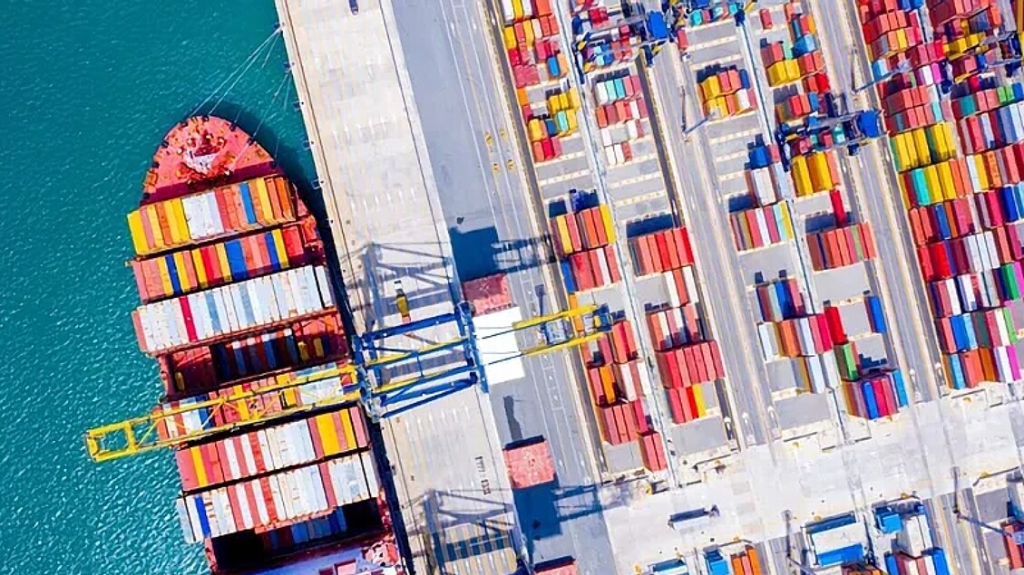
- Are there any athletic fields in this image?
No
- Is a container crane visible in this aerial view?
Yes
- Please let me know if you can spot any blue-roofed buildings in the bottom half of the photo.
Yes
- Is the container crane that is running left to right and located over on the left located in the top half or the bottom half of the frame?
bottom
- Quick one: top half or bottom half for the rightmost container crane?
top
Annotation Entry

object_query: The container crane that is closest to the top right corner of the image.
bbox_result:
[938,32,1024,99]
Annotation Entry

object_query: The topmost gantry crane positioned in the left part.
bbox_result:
[81,300,615,463]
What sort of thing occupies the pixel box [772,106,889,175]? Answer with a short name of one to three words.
container crane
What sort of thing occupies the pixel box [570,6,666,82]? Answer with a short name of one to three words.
container crane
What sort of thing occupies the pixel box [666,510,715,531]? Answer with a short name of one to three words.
truck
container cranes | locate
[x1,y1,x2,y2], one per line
[938,32,1024,99]
[81,300,615,463]
[772,106,889,175]
[663,0,757,42]
[570,6,666,82]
